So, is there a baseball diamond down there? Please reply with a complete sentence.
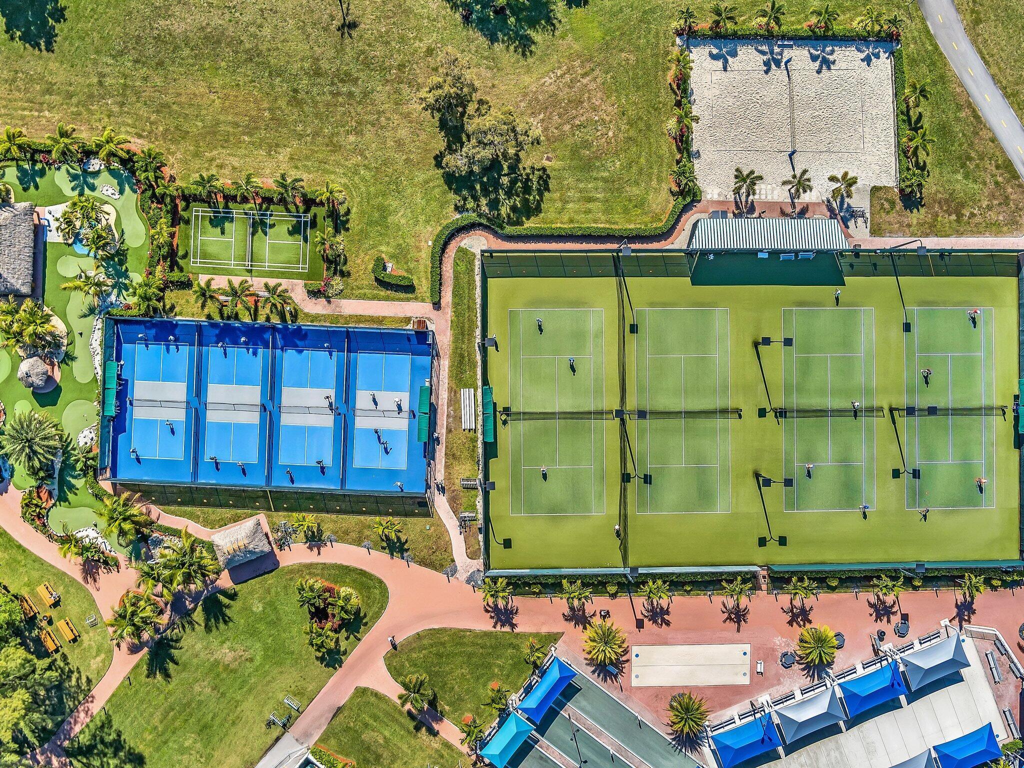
No, no baseball diamond can be seen from above.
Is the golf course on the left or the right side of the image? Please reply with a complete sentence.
It is on the left.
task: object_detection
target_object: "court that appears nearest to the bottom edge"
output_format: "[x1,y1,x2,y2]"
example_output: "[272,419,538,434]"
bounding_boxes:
[632,644,751,687]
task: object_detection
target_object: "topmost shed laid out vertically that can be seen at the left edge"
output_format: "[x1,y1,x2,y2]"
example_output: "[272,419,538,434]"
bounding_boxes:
[0,204,41,296]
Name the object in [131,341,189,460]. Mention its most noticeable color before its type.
blue sports court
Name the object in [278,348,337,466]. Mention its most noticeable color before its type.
blue sports court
